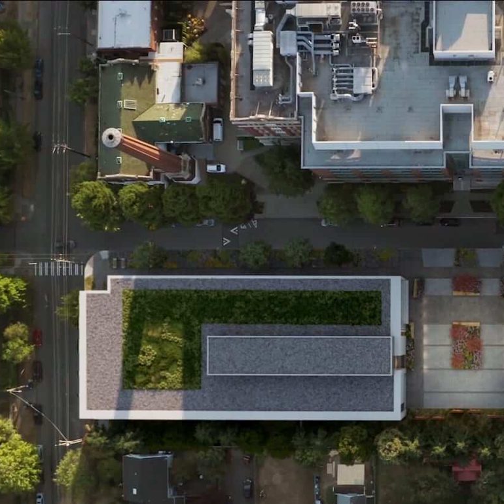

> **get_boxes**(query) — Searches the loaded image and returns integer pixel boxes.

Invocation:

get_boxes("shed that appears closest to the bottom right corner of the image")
[452,461,481,482]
